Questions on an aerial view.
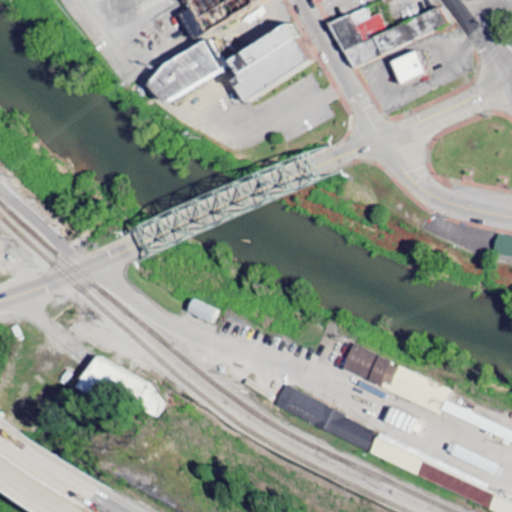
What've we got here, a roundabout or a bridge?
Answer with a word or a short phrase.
bridge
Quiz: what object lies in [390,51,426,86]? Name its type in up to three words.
building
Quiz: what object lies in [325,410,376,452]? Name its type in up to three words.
shed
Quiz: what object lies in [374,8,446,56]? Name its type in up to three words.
building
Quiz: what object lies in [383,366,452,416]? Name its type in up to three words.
shed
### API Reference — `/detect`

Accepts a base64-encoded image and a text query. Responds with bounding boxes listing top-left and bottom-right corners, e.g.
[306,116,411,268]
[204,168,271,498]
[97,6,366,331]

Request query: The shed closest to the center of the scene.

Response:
[188,299,220,322]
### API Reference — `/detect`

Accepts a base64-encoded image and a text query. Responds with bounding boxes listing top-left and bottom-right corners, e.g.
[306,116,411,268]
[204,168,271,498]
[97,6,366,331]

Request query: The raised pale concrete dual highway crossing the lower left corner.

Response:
[0,418,149,512]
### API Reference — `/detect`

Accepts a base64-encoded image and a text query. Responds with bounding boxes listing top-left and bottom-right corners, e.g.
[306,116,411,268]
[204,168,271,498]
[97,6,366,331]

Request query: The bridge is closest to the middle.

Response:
[128,144,338,260]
